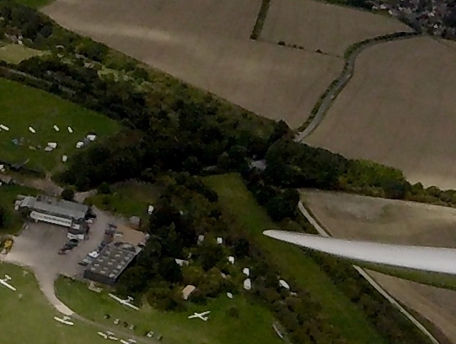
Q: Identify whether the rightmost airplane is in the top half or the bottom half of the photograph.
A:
bottom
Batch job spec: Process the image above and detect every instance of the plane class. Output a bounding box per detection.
[0,274,14,288]
[54,315,74,326]
[97,330,117,339]
[188,312,210,320]
[264,230,456,275]
[109,293,138,311]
